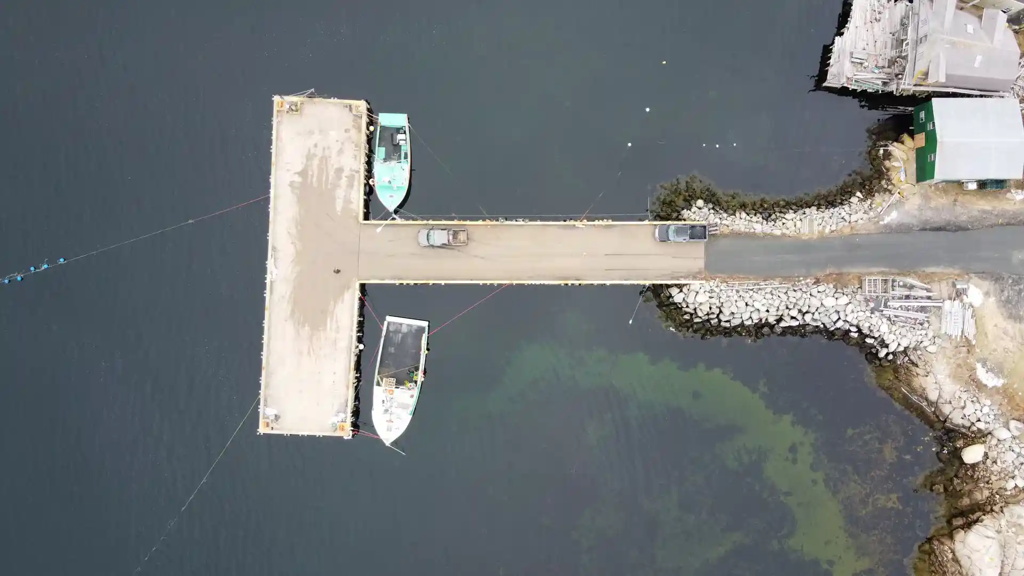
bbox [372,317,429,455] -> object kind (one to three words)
boat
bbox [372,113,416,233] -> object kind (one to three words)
boat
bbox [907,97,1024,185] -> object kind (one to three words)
building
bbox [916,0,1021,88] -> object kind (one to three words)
building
